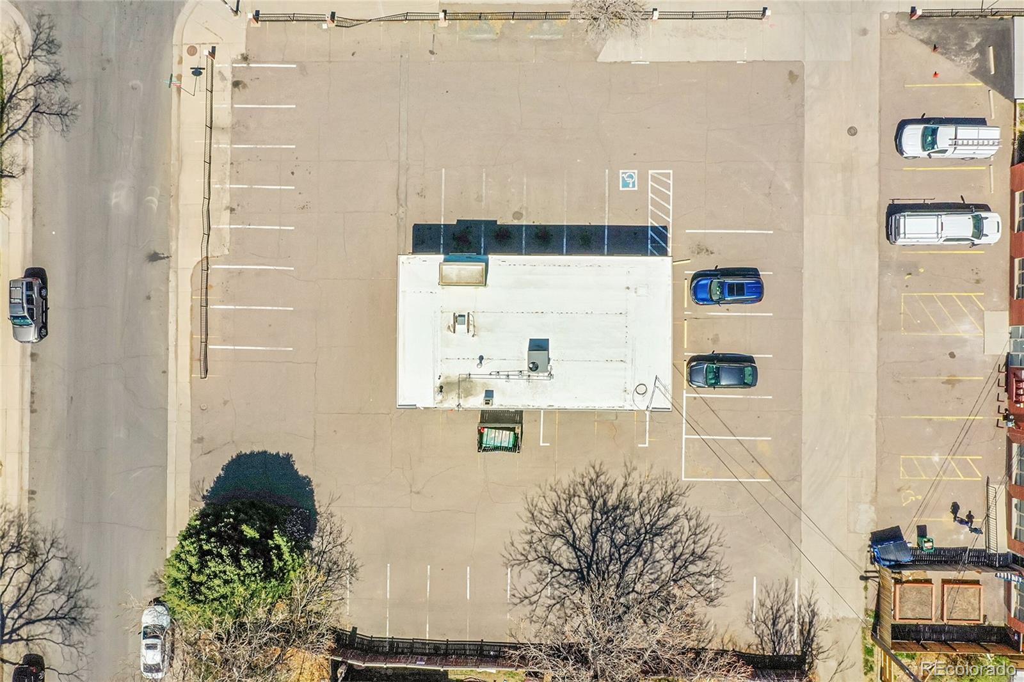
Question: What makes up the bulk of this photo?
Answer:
paved ground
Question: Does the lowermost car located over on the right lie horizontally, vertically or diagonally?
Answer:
horizontally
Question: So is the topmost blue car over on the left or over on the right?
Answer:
right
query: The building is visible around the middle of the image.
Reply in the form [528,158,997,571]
[397,255,672,411]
